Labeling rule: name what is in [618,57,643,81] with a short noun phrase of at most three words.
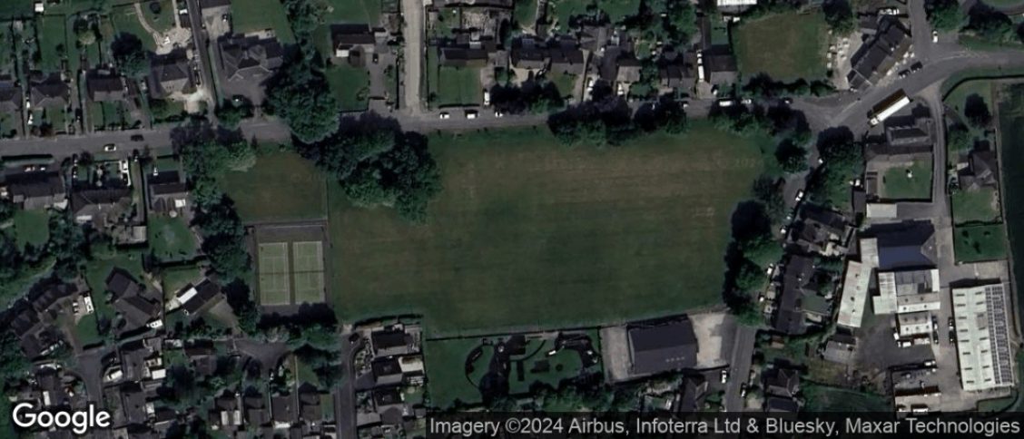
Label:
house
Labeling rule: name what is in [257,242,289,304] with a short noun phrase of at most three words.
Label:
tennis court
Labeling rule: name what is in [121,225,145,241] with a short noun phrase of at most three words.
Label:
building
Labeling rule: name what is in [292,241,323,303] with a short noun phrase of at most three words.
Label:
tennis court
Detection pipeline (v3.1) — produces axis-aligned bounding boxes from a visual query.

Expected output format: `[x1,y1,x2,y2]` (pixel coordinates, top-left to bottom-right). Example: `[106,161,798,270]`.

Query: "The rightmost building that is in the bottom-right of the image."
[953,282,1017,392]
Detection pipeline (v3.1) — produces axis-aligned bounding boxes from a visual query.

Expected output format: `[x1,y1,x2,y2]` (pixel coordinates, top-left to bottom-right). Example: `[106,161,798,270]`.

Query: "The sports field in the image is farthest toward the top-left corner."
[225,136,327,224]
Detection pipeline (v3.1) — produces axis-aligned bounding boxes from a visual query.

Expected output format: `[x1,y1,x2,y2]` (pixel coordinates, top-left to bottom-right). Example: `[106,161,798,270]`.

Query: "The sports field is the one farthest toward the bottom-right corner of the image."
[327,117,804,338]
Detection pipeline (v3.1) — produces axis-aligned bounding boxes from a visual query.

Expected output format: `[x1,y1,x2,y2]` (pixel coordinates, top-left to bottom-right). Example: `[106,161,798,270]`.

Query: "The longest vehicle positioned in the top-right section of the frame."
[871,97,911,124]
